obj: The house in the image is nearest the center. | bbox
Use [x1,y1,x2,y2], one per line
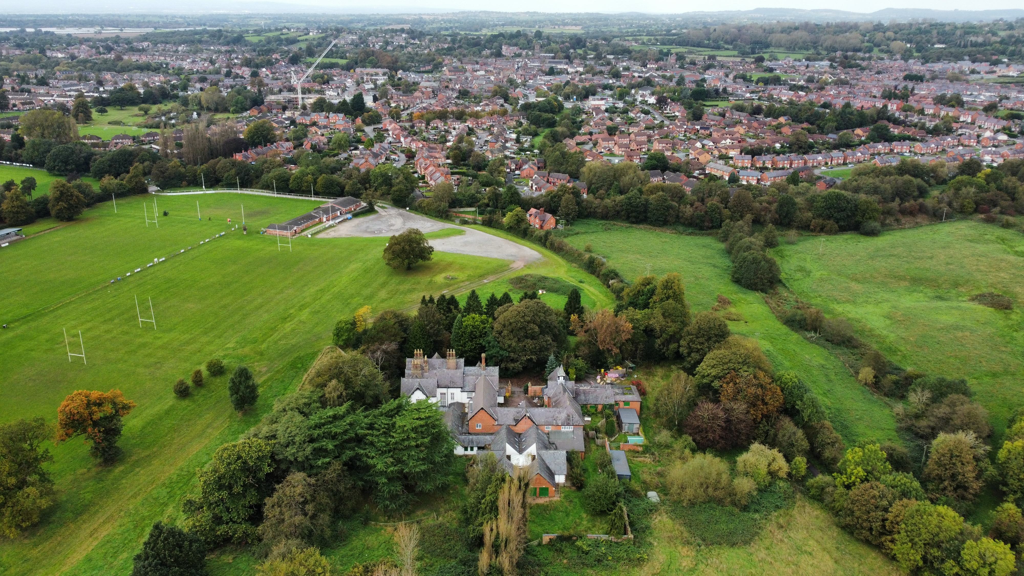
[528,207,561,233]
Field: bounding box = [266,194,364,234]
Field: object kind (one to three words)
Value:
building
